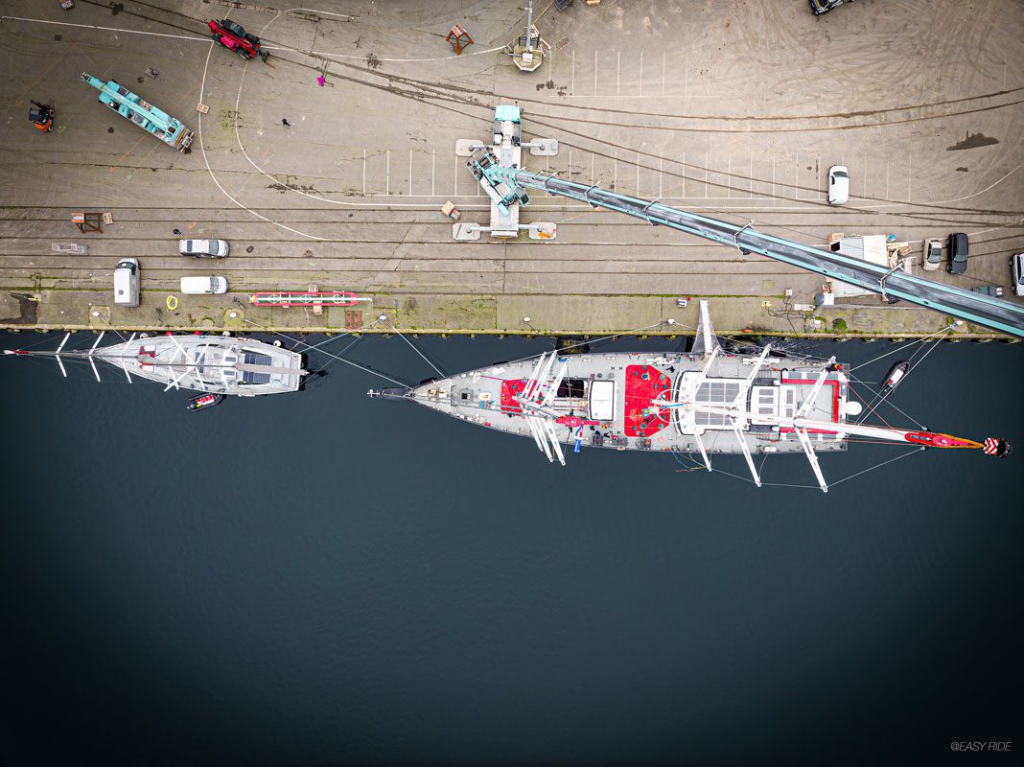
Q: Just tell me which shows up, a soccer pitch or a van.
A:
van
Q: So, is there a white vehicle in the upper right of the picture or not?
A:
Yes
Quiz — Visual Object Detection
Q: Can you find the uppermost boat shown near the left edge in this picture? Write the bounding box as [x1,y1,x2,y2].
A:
[0,332,306,396]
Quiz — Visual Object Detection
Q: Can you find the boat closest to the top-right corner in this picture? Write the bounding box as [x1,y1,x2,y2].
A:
[881,359,912,396]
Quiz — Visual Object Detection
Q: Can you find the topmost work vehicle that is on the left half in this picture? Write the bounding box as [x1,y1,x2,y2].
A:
[207,14,276,69]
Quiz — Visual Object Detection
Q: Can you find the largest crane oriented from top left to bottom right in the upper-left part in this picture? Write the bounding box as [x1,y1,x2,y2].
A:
[78,66,196,159]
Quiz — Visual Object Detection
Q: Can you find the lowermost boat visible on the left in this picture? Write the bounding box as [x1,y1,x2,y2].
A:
[185,392,224,413]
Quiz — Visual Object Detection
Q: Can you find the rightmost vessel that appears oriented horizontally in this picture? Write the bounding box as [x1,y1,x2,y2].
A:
[369,343,980,493]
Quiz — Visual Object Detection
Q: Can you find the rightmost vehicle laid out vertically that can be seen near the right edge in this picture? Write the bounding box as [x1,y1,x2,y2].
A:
[1004,252,1024,297]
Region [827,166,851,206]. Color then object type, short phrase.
white car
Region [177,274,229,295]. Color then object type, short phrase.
white vehicle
